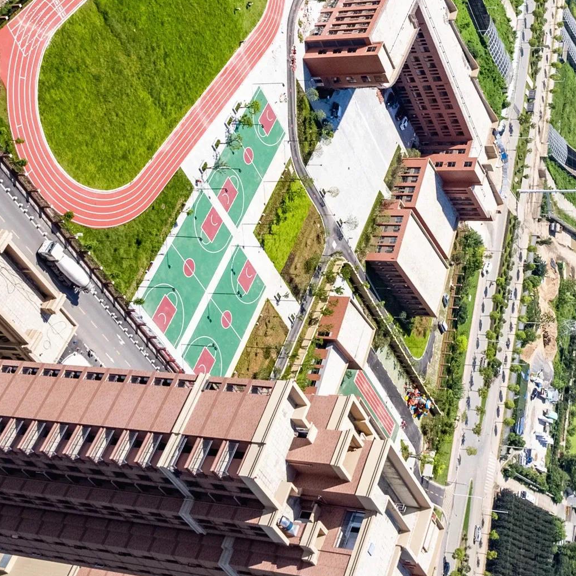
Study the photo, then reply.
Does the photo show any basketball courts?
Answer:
Yes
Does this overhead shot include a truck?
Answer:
Yes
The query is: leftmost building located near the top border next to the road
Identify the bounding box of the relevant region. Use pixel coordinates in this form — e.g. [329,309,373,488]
[295,0,504,220]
